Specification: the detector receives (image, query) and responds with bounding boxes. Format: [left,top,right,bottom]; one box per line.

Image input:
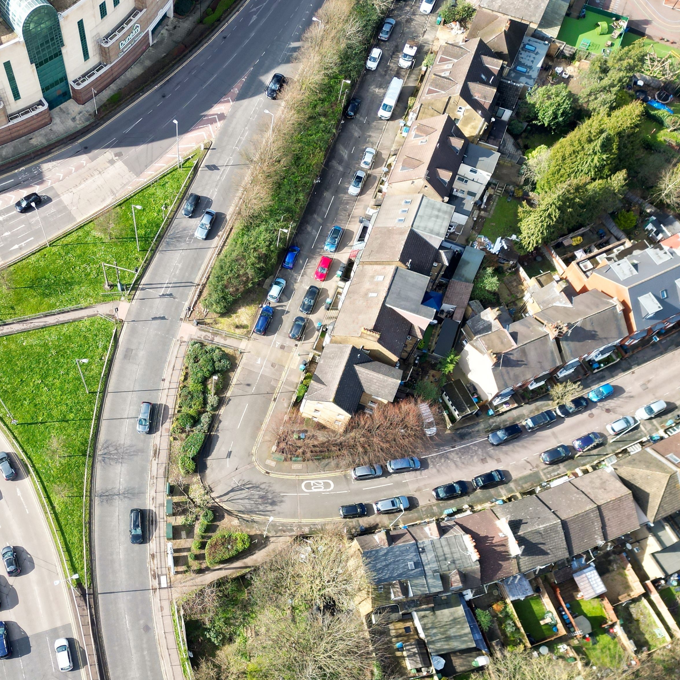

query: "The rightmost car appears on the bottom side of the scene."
[633,400,670,422]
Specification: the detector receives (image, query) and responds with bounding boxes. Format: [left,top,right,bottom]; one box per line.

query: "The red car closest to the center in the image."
[314,255,333,283]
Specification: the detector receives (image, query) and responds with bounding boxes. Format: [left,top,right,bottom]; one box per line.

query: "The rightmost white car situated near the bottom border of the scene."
[54,637,75,674]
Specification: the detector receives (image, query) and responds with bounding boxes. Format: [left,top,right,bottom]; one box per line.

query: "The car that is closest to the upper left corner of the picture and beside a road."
[15,191,43,214]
